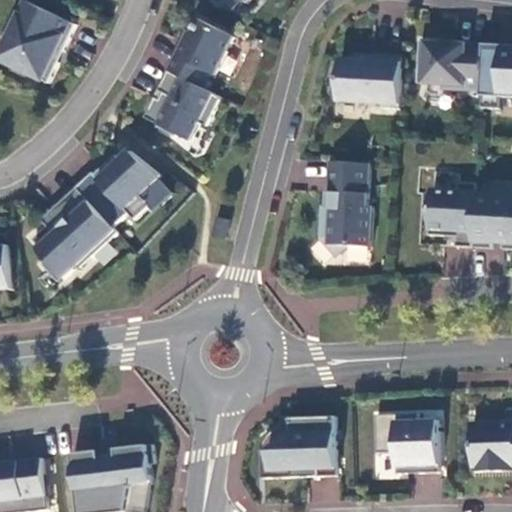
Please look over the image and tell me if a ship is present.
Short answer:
No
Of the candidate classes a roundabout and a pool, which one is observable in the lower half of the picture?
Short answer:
roundabout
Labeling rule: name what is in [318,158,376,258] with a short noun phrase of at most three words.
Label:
house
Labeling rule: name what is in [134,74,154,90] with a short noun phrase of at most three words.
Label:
car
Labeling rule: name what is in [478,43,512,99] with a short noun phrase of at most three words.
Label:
house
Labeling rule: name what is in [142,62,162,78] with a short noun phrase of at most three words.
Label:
car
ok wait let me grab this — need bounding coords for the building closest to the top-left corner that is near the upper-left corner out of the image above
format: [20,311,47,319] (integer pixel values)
[0,2,73,84]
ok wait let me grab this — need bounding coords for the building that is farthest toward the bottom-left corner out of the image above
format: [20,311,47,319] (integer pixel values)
[0,456,52,512]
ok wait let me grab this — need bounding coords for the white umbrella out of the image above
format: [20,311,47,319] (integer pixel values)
[440,96,455,111]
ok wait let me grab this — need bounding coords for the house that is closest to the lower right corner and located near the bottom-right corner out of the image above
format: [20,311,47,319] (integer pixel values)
[464,414,512,472]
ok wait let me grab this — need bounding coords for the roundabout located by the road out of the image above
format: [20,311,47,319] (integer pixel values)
[136,268,314,445]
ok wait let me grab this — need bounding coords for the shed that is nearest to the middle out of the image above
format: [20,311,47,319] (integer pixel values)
[215,209,236,236]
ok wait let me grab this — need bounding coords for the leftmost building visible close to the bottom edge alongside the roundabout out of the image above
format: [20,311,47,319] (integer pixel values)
[63,444,161,512]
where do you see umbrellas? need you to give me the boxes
[440,96,455,111]
[229,48,240,58]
